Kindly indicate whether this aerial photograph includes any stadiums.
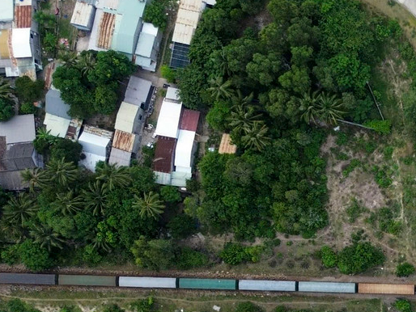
No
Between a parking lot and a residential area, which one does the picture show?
residential area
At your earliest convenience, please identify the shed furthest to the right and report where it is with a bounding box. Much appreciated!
[218,134,241,155]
